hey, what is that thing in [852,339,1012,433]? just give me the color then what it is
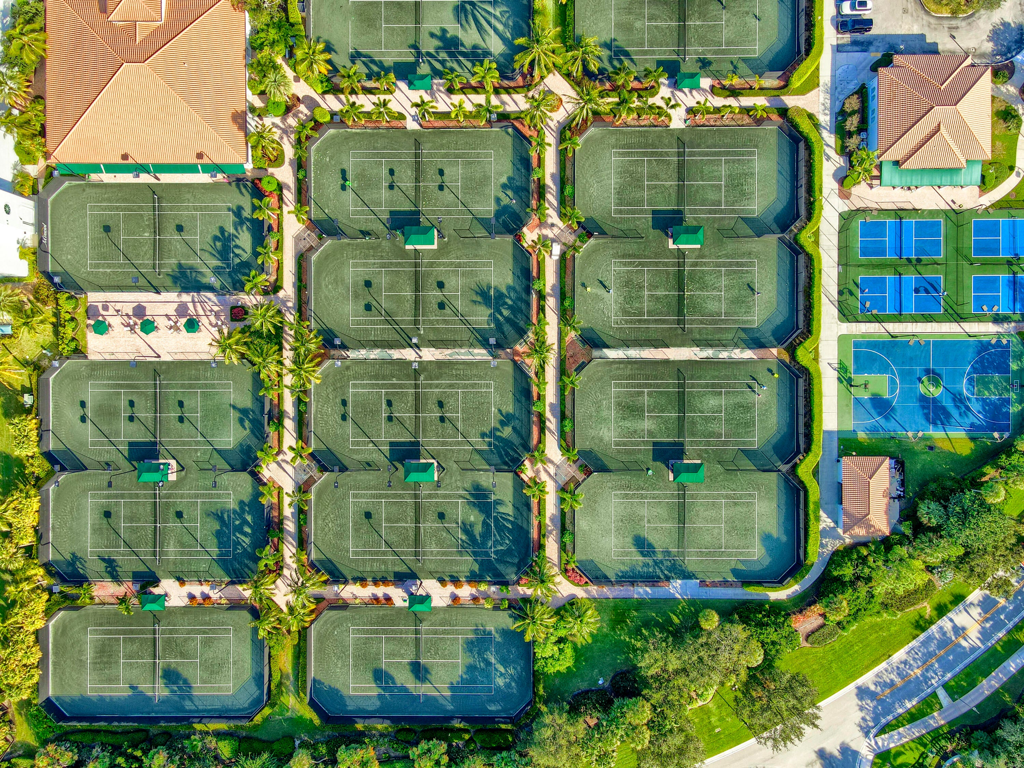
blue basketball court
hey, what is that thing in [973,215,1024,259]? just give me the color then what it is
blue sports court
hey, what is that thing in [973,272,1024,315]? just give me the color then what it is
blue sports court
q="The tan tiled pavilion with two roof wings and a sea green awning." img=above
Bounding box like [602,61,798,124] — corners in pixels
[868,54,992,191]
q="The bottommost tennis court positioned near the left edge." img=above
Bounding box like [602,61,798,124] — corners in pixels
[50,606,264,716]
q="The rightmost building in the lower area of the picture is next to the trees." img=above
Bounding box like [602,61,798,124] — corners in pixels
[838,456,890,536]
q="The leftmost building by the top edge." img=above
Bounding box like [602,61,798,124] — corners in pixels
[45,0,251,178]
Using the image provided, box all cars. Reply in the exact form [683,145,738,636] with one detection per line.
[838,19,873,36]
[840,0,871,15]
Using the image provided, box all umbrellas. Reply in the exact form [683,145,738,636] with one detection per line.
[93,319,109,335]
[184,319,200,333]
[141,319,156,335]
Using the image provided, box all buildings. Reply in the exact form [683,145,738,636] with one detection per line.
[838,456,890,536]
[45,0,251,178]
[868,54,992,191]
[0,187,37,292]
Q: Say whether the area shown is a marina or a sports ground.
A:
sports ground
